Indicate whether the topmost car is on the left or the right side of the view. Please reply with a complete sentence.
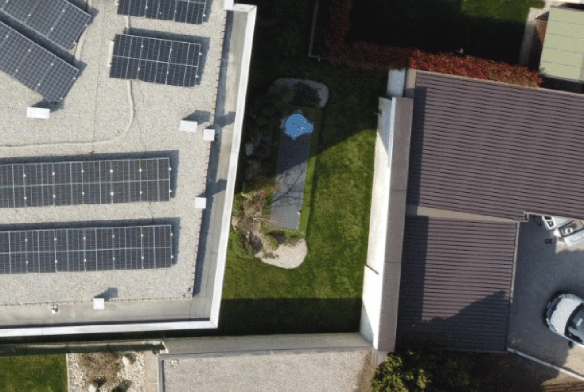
The topmost car appears in the right half of the scene.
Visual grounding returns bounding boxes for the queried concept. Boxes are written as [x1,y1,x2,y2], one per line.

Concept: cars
[536,296,584,353]
[546,220,584,256]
